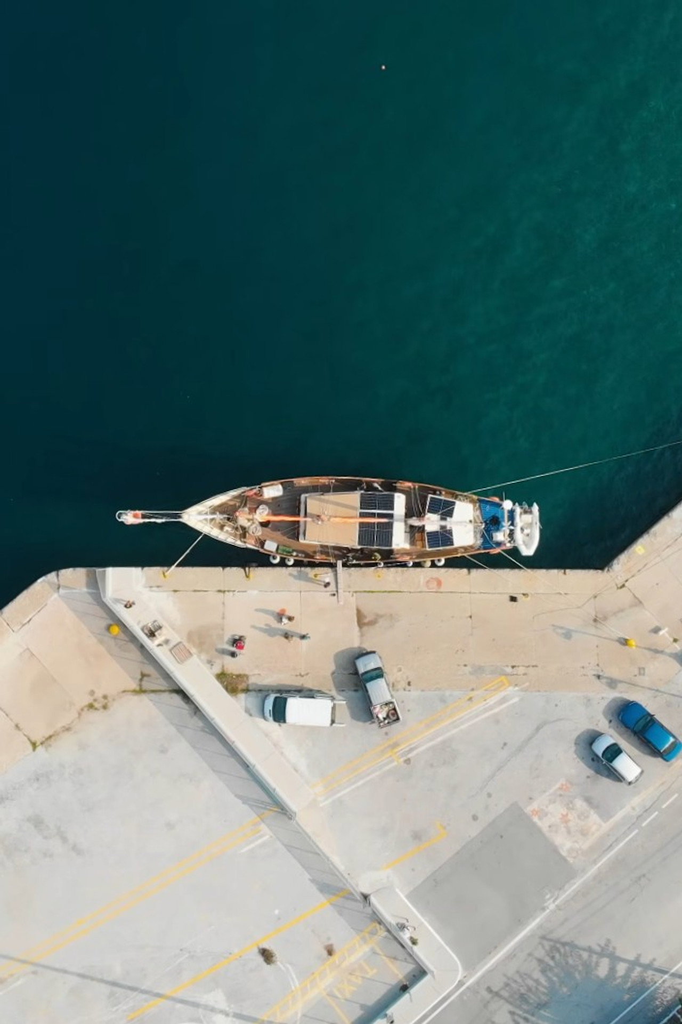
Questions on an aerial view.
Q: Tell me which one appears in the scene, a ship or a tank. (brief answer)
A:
ship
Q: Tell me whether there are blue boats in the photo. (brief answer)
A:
No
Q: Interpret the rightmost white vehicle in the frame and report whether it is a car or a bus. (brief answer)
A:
car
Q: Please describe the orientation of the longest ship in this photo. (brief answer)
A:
from left to right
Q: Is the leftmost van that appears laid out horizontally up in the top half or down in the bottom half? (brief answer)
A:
bottom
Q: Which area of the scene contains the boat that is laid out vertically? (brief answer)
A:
right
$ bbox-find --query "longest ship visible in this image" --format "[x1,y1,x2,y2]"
[116,475,521,568]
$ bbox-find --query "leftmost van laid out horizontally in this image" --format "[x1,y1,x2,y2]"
[263,690,347,727]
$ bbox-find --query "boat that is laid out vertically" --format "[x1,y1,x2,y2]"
[514,501,541,556]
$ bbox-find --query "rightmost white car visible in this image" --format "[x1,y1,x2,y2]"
[590,731,644,785]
